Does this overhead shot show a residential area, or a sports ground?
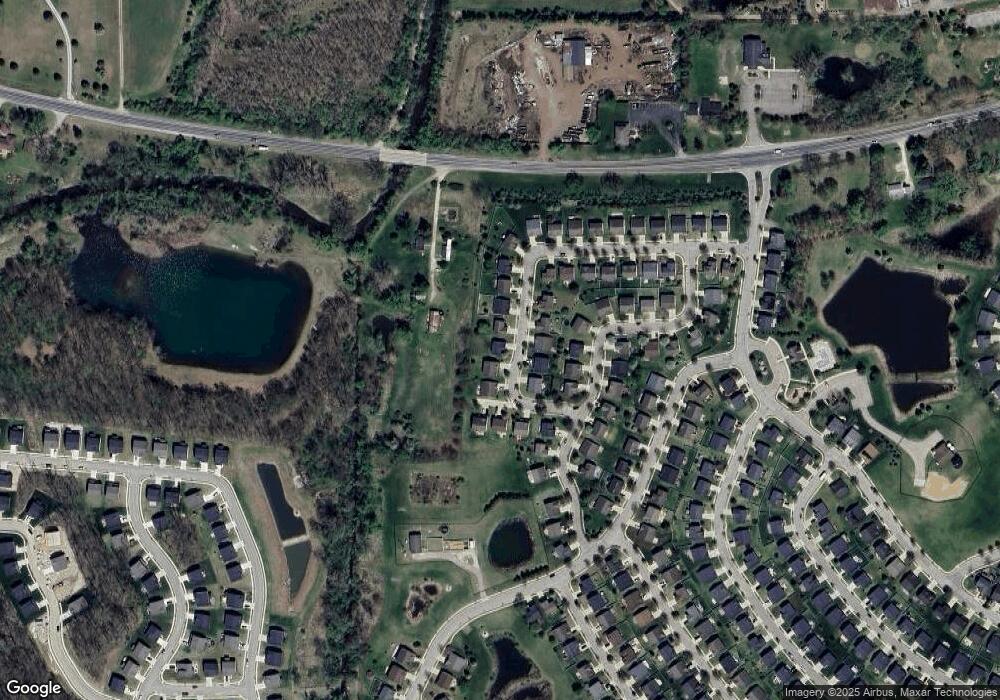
residential area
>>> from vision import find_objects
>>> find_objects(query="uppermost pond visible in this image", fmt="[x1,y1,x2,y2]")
[815,58,887,99]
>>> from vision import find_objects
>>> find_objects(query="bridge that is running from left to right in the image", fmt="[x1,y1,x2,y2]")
[380,145,428,169]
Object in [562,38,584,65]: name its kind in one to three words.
building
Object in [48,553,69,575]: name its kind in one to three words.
house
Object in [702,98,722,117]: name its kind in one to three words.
house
